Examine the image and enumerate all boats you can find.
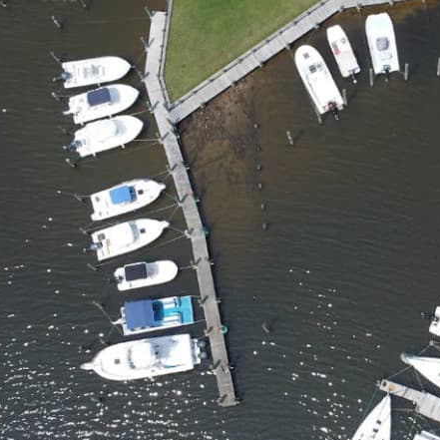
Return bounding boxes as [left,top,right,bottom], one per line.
[367,14,400,83]
[52,60,132,87]
[330,25,361,83]
[351,396,391,440]
[111,295,194,339]
[89,180,165,220]
[298,45,345,122]
[82,219,169,260]
[66,116,143,157]
[76,333,212,382]
[60,85,139,126]
[107,260,178,293]
[402,355,440,390]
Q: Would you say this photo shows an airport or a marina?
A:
marina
